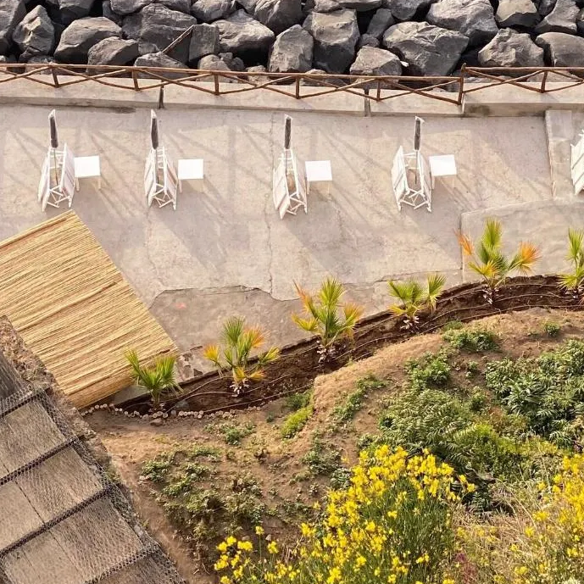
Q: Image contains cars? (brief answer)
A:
No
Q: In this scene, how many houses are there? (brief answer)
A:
zero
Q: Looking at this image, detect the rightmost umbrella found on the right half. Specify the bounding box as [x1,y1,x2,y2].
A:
[409,114,424,189]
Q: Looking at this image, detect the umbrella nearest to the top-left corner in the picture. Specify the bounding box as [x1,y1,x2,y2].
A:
[42,113,60,188]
